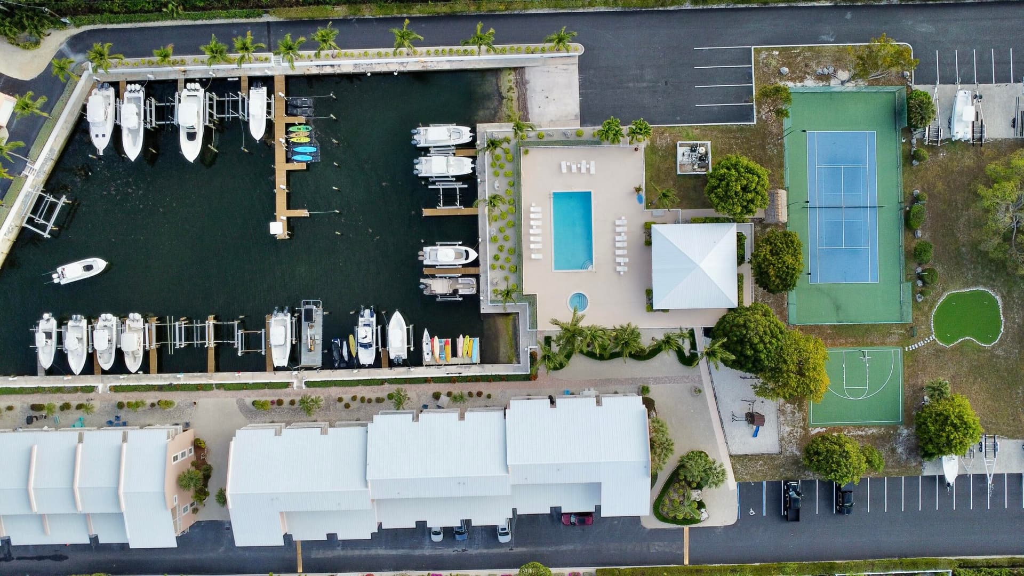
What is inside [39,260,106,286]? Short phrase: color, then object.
white boat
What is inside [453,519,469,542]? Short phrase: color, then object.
blue vehicle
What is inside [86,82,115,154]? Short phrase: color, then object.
white boat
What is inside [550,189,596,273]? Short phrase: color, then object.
blue swimming pool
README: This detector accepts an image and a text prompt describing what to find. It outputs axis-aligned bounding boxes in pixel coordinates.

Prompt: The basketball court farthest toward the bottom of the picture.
[810,347,904,426]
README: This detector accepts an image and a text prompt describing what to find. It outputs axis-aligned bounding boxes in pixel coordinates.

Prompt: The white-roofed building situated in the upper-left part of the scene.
[0,90,28,131]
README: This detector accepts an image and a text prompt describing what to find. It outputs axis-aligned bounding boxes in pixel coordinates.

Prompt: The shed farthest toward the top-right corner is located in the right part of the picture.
[762,189,787,223]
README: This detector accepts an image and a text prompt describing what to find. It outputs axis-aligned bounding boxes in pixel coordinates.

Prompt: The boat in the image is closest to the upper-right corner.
[955,91,981,144]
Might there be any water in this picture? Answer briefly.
Yes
